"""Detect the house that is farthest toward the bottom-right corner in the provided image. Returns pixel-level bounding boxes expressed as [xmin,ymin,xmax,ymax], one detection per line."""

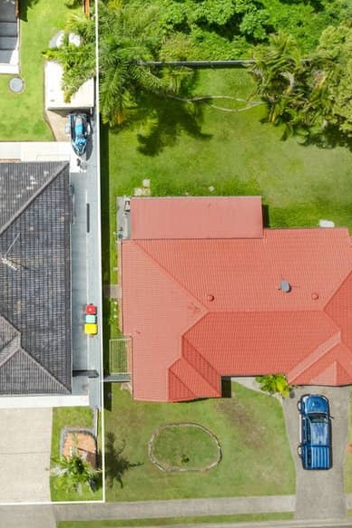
[121,195,352,403]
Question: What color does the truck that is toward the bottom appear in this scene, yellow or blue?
blue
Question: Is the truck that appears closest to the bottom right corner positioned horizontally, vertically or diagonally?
vertically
